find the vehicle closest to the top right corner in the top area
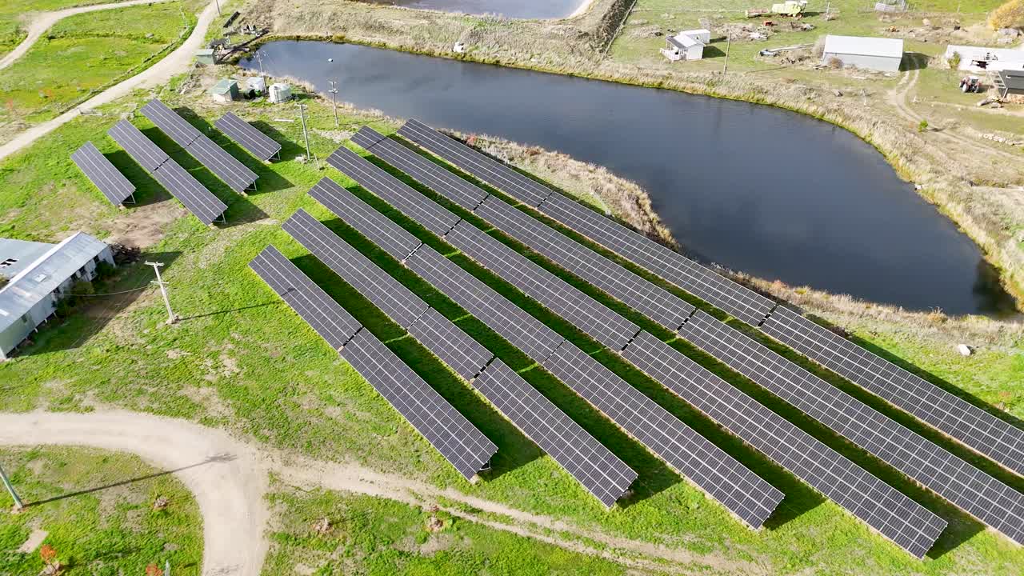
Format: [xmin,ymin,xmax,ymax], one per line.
[963,76,982,91]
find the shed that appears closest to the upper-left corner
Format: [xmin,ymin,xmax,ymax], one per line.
[194,49,220,64]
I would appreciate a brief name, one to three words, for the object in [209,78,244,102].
shed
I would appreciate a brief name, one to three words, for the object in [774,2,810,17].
work vehicle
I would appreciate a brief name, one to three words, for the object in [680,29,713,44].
shed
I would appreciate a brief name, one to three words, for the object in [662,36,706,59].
building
